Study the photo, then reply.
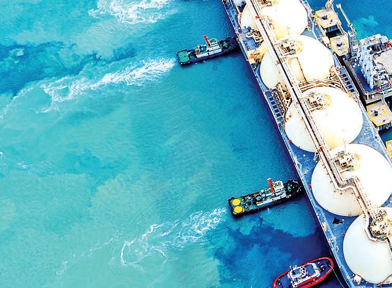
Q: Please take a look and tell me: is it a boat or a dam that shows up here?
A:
boat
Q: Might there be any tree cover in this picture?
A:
No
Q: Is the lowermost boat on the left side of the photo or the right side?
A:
right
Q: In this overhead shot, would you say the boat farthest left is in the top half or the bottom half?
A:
top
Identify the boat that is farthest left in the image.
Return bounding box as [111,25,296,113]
[176,35,238,66]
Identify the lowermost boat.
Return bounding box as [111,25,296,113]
[272,258,335,288]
